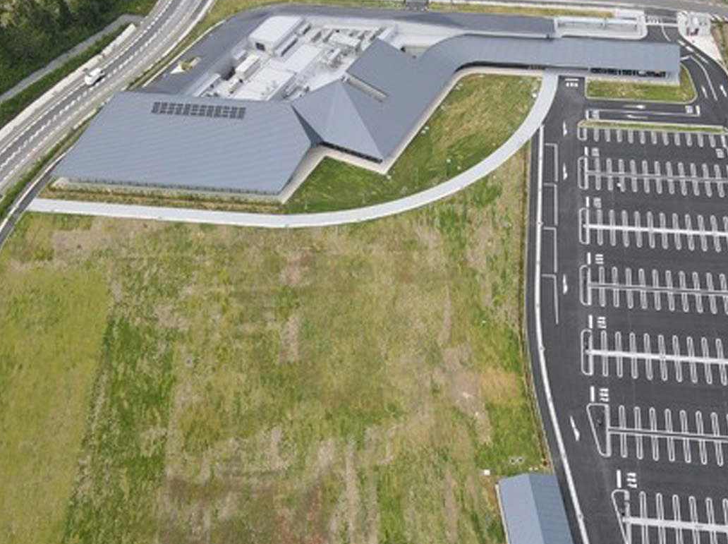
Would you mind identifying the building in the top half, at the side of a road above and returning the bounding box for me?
[55,5,680,202]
